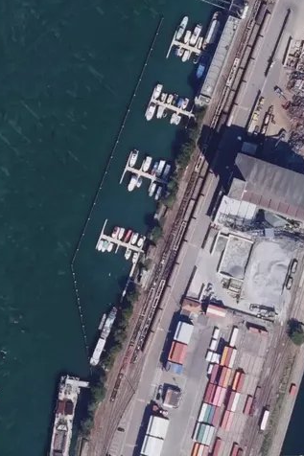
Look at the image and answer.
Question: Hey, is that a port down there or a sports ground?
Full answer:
The picture captures a port.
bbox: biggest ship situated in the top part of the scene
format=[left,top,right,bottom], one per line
[202,11,221,49]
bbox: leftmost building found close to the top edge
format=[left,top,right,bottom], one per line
[201,16,240,99]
